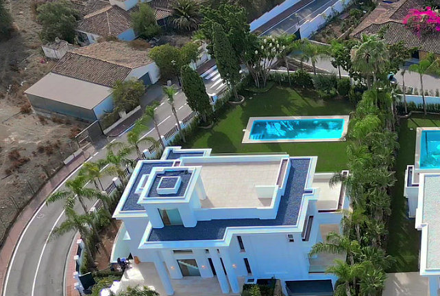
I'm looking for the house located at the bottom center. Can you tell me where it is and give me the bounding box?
[107,147,350,296]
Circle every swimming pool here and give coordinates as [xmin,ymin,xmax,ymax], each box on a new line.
[414,125,440,167]
[242,114,349,143]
